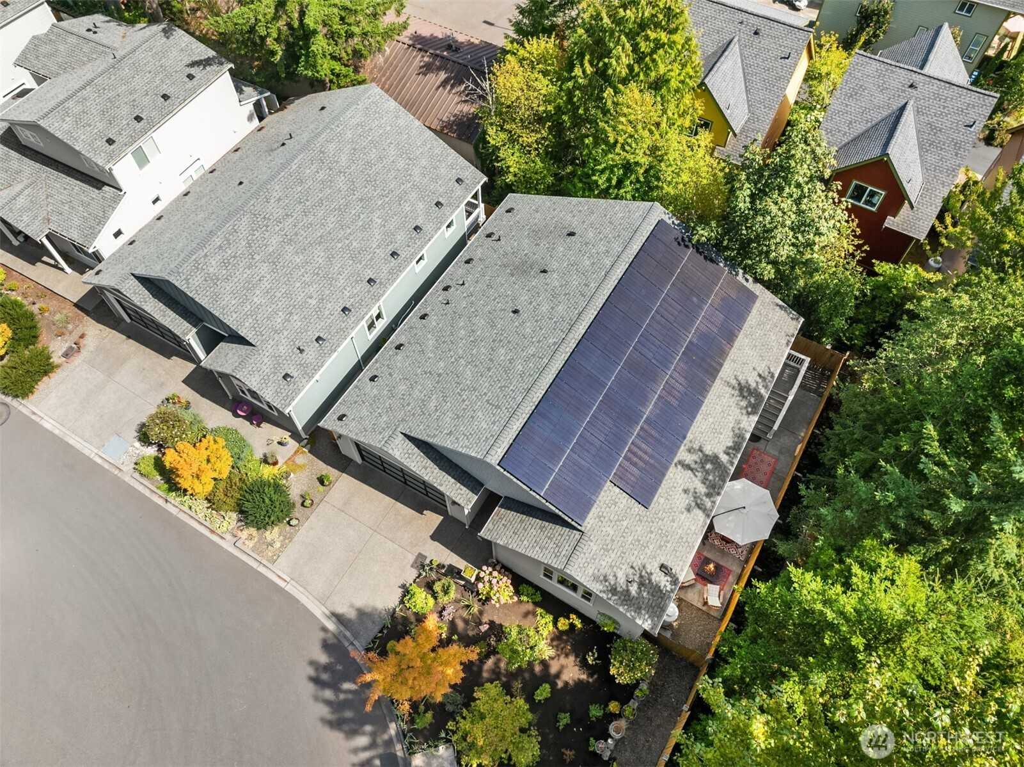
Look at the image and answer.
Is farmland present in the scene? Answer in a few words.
No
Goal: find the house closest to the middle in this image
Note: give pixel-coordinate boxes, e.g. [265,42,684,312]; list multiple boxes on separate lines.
[316,192,805,638]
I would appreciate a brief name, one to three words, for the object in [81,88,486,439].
house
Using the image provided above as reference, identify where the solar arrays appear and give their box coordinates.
[505,217,761,526]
